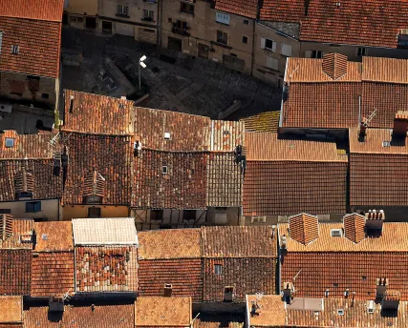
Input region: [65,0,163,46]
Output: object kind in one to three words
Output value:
house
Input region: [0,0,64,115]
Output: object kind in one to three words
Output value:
house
